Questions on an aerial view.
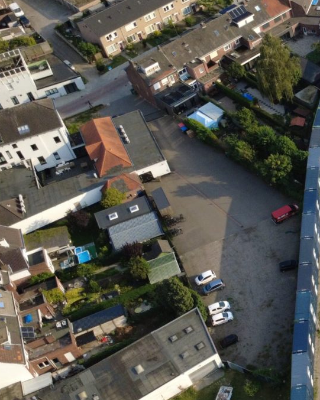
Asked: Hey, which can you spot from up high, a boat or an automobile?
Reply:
automobile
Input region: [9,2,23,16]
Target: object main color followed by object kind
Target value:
white vehicle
